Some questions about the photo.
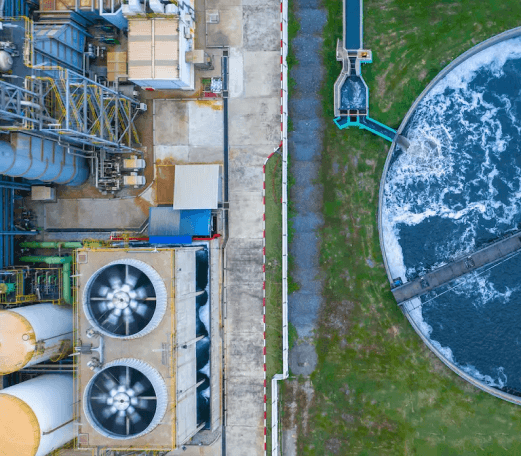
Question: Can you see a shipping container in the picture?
No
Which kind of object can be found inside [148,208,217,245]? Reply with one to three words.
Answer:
shed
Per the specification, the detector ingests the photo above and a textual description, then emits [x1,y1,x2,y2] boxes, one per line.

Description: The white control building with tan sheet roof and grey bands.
[127,0,205,89]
